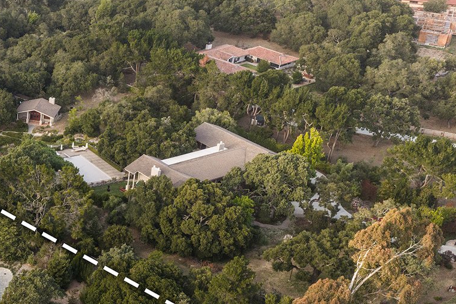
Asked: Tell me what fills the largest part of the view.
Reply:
trees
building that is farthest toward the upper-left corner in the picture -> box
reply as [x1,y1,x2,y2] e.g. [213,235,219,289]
[19,95,59,128]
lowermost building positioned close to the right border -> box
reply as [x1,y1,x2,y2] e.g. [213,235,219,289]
[399,19,456,47]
